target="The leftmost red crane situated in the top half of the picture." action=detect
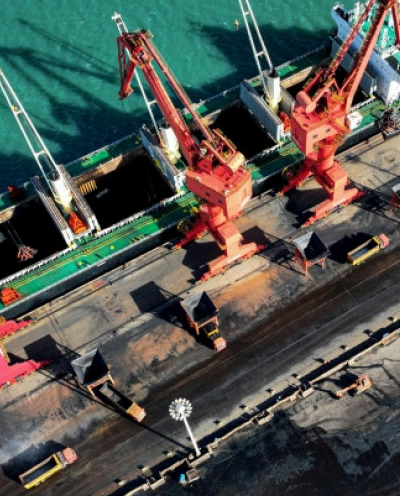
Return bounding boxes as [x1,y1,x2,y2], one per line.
[117,22,270,283]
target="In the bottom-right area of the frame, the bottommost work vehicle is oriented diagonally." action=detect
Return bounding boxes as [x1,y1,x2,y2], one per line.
[338,371,375,401]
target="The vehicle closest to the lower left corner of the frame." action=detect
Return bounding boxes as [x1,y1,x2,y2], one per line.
[18,445,81,490]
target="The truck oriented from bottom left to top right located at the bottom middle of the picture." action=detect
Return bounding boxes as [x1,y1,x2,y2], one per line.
[180,468,201,490]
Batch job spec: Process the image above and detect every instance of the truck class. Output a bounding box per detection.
[180,468,201,490]
[18,445,81,490]
[97,378,152,426]
[345,233,390,268]
[198,317,228,356]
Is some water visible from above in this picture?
Yes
